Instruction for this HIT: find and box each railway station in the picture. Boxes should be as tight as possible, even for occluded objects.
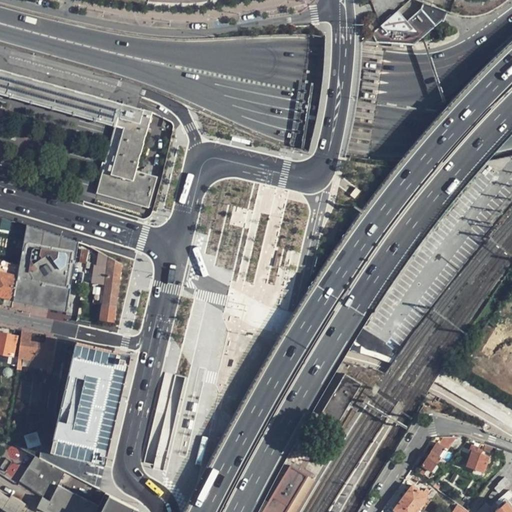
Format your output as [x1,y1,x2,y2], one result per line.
[0,70,118,130]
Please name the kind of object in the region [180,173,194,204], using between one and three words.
vehicle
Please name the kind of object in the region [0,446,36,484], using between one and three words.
house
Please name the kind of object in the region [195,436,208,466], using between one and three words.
vehicle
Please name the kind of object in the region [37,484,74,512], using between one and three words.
building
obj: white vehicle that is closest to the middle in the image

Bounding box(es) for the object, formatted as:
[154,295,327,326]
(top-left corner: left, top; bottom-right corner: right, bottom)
[193,246,208,276]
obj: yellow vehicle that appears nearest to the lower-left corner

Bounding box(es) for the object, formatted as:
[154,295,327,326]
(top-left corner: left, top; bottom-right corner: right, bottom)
[146,480,164,496]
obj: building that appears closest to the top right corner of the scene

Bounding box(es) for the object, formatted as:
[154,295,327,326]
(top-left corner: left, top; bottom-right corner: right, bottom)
[374,4,447,45]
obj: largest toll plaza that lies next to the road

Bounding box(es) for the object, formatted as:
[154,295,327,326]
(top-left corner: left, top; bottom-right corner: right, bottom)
[348,40,420,158]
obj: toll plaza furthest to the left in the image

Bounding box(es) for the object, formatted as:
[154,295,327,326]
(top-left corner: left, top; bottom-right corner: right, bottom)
[285,34,324,148]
